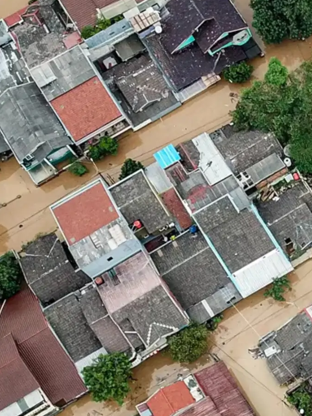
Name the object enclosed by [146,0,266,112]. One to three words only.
house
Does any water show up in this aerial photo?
Yes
